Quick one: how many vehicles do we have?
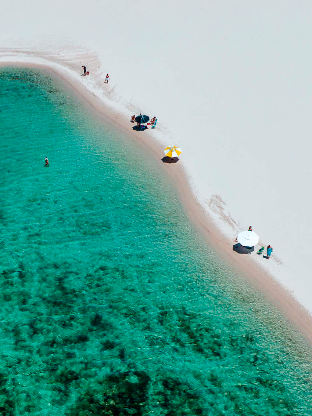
0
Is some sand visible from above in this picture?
Yes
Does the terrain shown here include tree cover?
No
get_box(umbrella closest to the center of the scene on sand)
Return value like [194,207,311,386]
[164,145,182,158]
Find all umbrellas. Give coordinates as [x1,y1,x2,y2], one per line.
[237,230,260,251]
[164,145,182,158]
[135,114,150,128]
